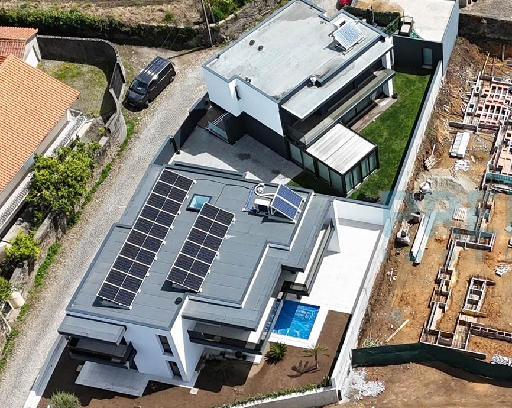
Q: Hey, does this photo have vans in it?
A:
Yes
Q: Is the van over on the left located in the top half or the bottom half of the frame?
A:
top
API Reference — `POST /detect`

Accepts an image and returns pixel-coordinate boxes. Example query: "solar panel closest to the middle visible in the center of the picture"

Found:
[270,184,305,223]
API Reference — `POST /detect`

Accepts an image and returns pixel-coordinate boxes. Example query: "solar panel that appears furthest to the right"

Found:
[334,19,365,52]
